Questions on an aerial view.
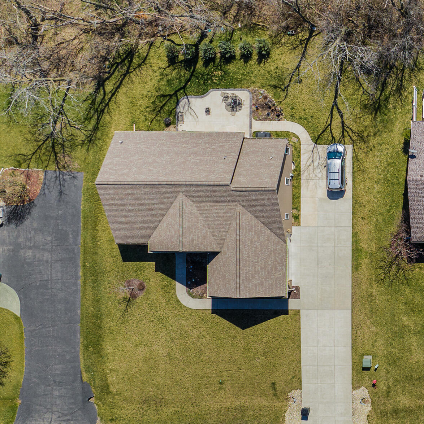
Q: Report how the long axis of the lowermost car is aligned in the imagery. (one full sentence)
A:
The lowermost car is laid out vertically.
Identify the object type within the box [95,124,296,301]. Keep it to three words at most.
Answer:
house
